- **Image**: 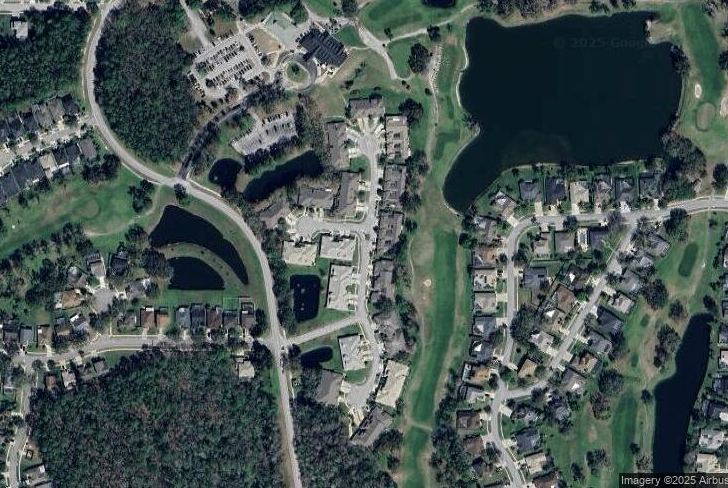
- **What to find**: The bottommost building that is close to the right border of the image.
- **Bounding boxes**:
[697,452,720,476]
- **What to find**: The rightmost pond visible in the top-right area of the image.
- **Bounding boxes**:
[444,12,684,213]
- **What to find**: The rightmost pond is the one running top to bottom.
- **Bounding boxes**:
[653,313,712,488]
